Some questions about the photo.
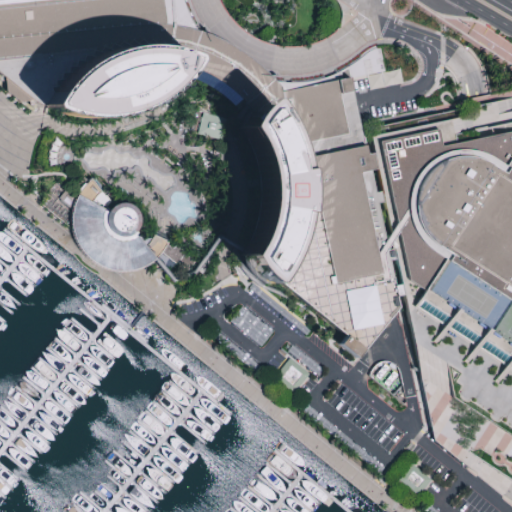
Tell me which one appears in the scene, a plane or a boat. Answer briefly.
boat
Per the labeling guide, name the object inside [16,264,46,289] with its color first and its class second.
white boat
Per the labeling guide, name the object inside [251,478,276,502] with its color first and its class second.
white boat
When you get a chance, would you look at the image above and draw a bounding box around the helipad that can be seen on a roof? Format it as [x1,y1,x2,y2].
[290,168,324,211]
